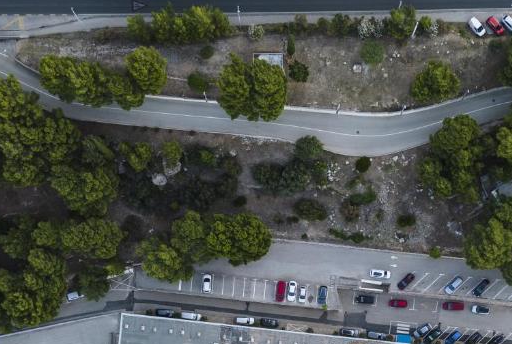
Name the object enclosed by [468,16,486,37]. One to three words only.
car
